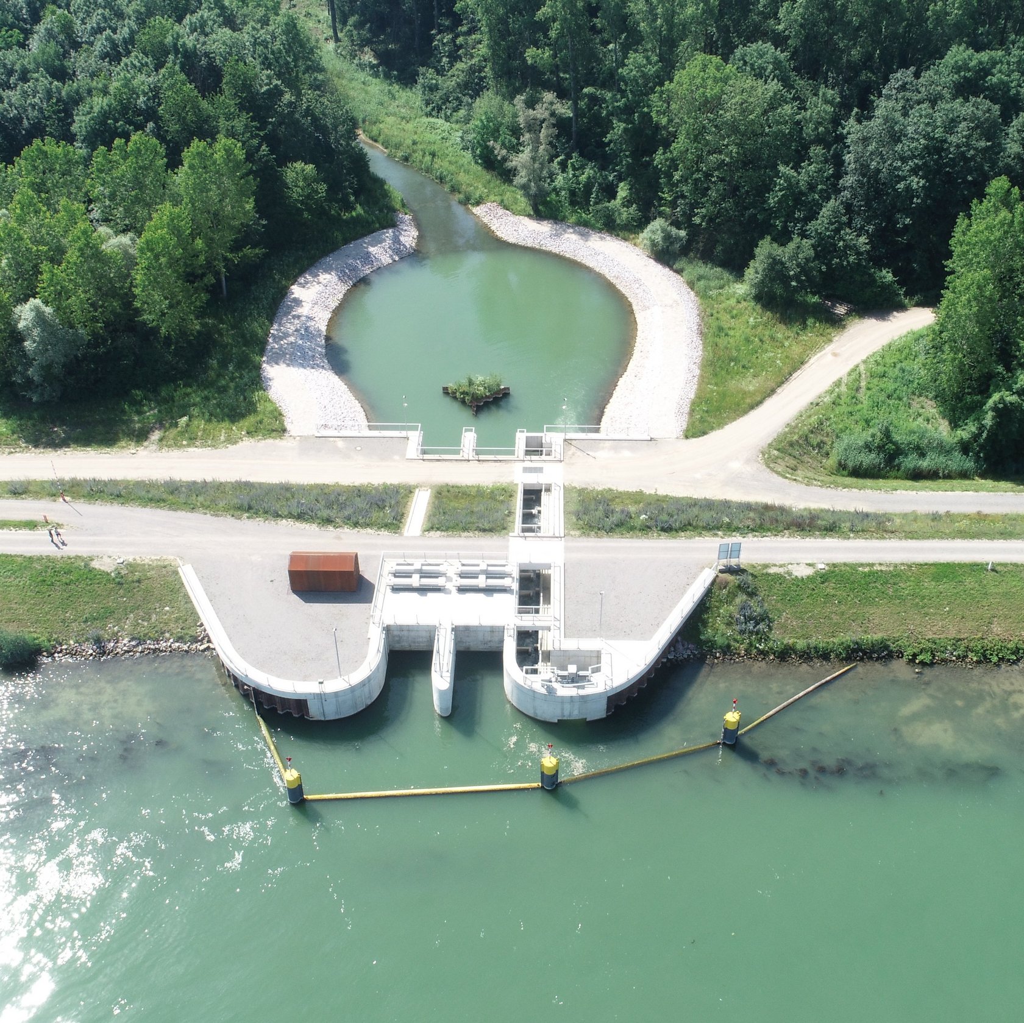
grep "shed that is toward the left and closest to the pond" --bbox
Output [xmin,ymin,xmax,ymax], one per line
[288,551,359,591]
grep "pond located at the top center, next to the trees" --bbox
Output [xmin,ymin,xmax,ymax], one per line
[326,77,631,454]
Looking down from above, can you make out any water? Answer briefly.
Yes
